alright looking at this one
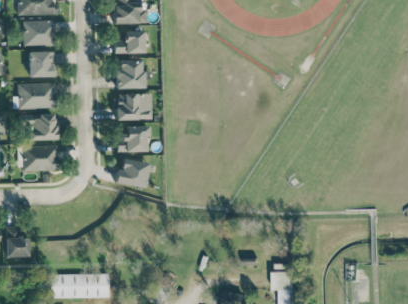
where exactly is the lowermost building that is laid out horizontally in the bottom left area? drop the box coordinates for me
[54,274,110,299]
